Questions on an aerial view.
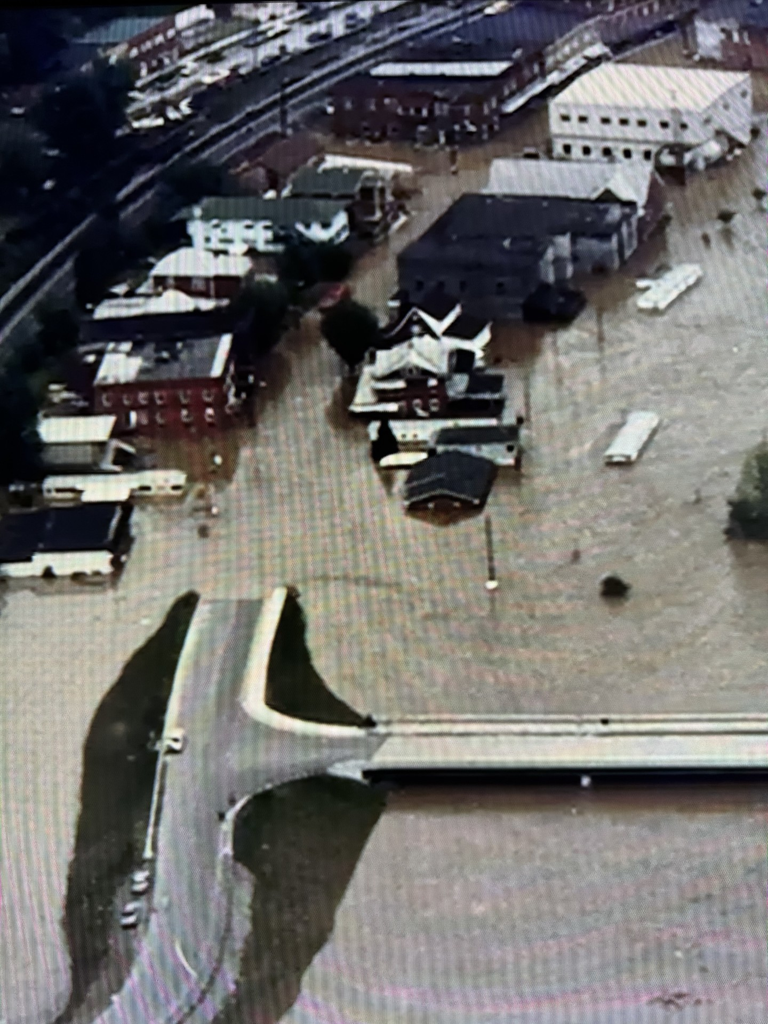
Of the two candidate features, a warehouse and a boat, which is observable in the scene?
warehouse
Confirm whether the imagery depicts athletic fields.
No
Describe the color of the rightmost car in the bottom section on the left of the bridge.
white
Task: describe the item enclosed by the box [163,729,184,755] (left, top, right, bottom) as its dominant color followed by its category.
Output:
white car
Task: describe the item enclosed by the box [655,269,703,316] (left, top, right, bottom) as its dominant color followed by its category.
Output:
white trailer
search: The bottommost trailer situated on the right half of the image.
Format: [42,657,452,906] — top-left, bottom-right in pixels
[605,412,660,466]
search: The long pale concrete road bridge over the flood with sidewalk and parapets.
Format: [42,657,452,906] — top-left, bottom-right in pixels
[326,713,768,794]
